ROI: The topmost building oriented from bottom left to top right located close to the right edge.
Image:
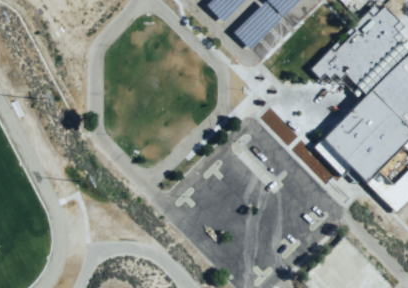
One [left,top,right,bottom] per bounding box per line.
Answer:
[310,7,402,85]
